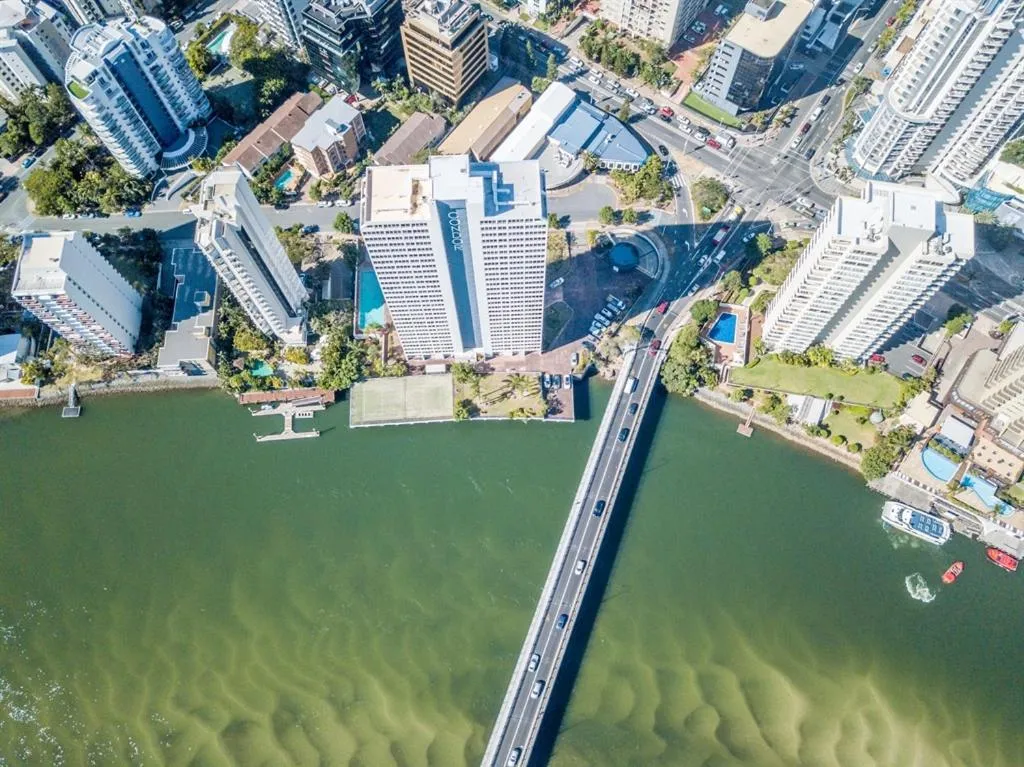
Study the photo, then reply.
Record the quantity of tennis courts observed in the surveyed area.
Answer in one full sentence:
The count comes to 1 tennis court.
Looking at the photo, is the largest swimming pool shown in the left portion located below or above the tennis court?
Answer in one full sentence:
Looking at the scene, the largest swimming pool shown in the left portion is located above the tennis court.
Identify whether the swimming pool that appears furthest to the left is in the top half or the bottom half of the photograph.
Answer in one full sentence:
Seen from above, the swimming pool that appears furthest to the left lies in the top half of the view.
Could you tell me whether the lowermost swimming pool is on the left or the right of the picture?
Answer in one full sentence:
The lowermost swimming pool is on the right side of the image.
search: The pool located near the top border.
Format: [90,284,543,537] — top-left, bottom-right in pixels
[203,23,235,56]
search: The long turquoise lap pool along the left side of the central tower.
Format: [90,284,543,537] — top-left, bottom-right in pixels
[355,260,392,331]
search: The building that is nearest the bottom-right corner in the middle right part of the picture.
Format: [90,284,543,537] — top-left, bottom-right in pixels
[969,438,1023,483]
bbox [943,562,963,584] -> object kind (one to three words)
boat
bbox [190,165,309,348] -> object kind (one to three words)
building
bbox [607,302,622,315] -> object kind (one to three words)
vehicle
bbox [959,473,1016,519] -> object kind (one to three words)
swimming pool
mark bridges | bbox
[480,291,701,767]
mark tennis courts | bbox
[348,372,453,425]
